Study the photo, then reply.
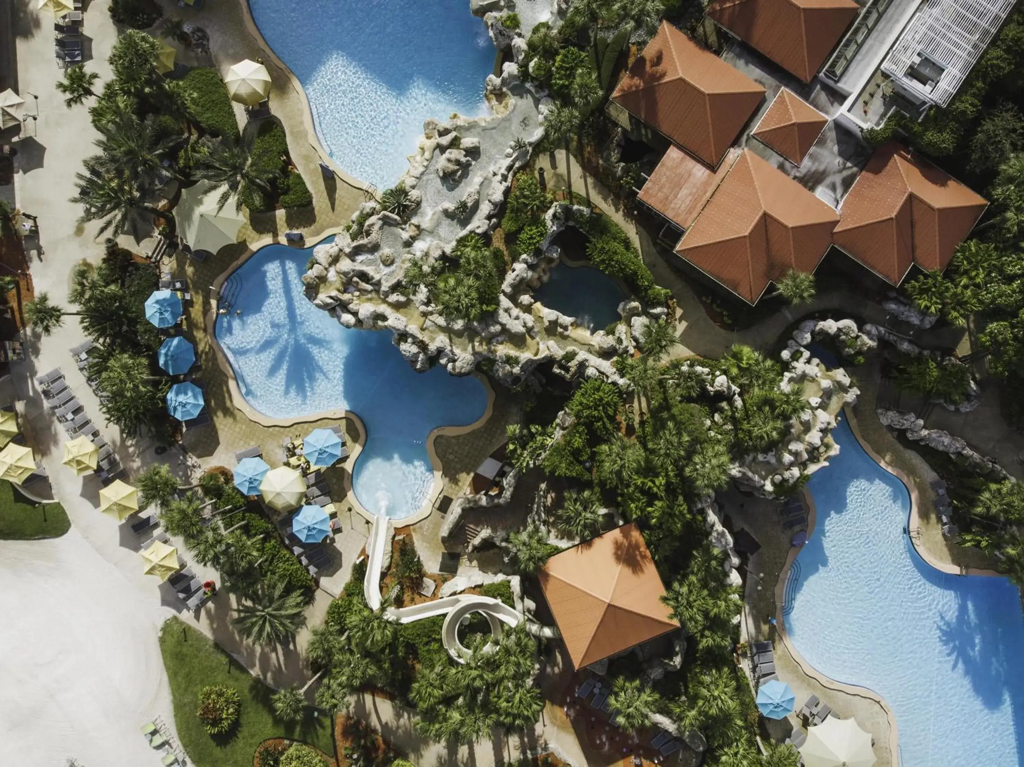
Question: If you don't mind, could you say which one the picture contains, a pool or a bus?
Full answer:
Of the two, only a pool appears.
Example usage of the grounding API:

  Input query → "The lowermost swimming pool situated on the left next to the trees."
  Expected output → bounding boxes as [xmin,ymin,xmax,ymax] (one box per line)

[215,244,489,519]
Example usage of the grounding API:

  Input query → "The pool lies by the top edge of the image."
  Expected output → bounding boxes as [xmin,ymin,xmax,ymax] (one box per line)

[245,0,490,192]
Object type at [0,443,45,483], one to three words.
umbrella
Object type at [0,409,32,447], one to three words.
umbrella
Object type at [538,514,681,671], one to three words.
building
